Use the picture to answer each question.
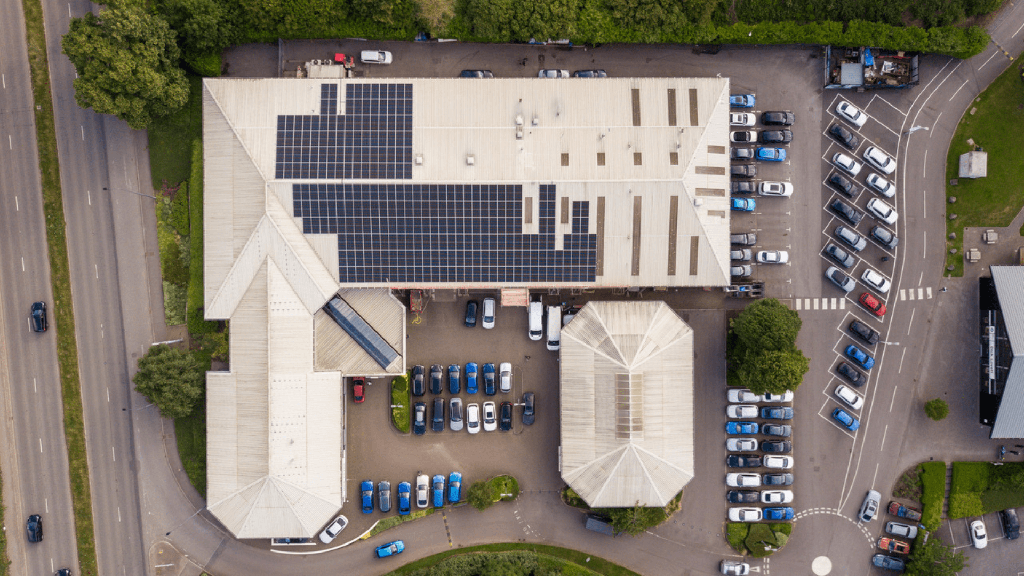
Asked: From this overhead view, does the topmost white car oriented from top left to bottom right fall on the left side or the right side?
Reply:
right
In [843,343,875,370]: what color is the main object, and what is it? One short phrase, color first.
blue car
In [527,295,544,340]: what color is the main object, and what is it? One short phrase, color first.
white vehicle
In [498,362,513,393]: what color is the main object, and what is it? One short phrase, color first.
white car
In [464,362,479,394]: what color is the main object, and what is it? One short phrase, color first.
blue car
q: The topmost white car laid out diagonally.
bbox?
[836,100,868,127]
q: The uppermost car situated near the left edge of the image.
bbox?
[29,301,49,332]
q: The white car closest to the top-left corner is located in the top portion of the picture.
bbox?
[360,49,393,65]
